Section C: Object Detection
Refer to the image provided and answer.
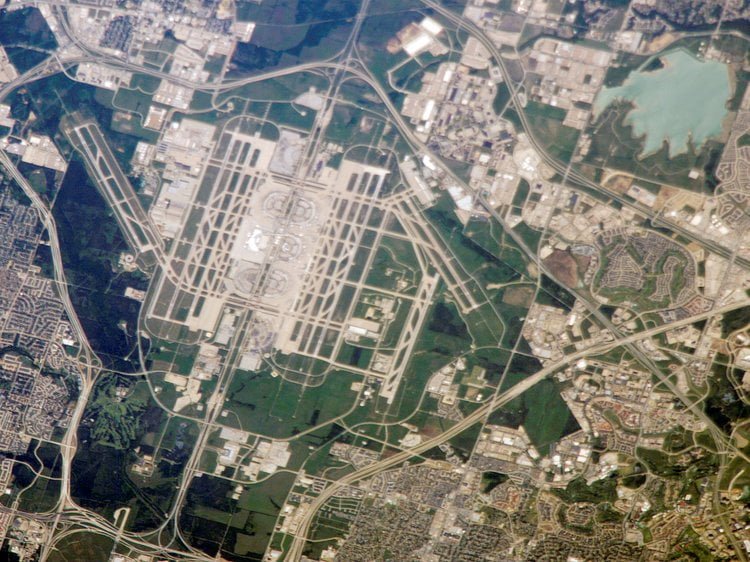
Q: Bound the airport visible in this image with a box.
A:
[74,122,488,404]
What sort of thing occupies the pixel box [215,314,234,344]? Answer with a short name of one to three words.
hangar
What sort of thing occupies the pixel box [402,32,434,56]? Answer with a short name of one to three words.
building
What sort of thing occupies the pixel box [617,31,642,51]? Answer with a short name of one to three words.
building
